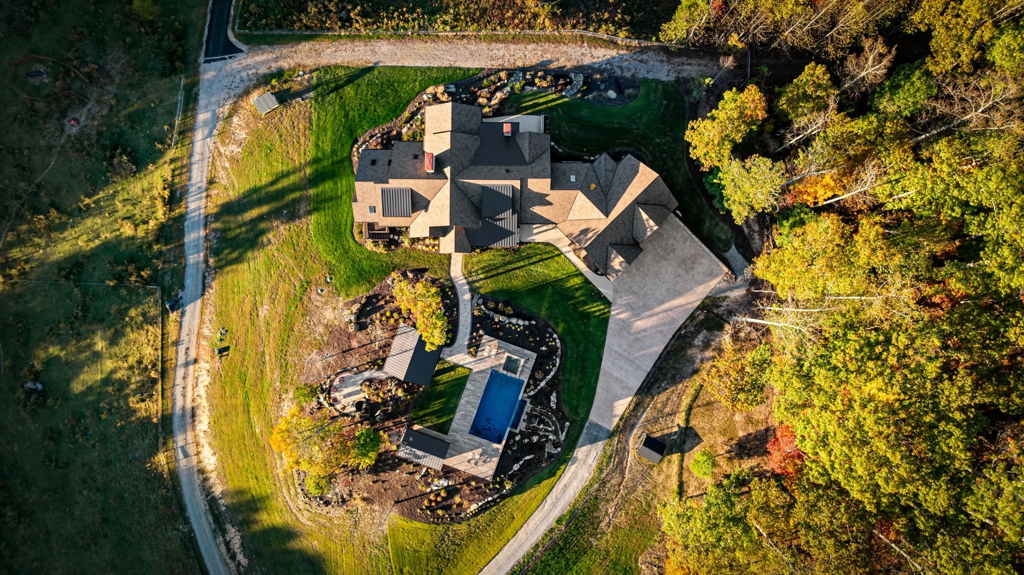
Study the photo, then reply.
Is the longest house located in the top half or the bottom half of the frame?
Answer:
top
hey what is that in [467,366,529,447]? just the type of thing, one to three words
swimming pool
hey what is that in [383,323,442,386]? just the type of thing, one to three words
building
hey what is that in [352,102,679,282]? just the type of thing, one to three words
house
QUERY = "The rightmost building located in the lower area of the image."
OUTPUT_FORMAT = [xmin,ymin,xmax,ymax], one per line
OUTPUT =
[635,433,667,464]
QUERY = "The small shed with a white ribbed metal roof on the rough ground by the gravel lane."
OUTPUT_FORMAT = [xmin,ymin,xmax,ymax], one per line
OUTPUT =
[253,92,282,116]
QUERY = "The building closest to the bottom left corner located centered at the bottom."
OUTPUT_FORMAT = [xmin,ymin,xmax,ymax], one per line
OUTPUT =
[397,427,450,471]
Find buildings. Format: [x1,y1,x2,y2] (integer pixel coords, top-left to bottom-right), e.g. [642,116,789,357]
[253,92,282,116]
[397,427,450,471]
[383,323,442,386]
[635,433,667,464]
[352,102,679,282]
